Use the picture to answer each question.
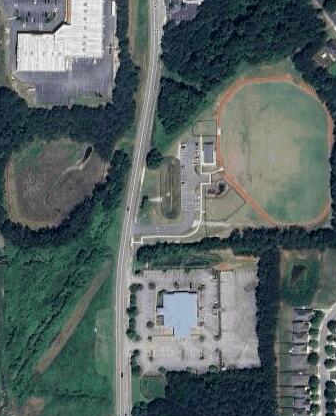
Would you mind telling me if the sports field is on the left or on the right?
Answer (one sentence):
The sports field is on the right side of the image.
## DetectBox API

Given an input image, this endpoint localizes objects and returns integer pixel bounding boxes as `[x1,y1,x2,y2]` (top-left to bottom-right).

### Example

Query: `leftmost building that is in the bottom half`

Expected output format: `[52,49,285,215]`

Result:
[155,293,198,337]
